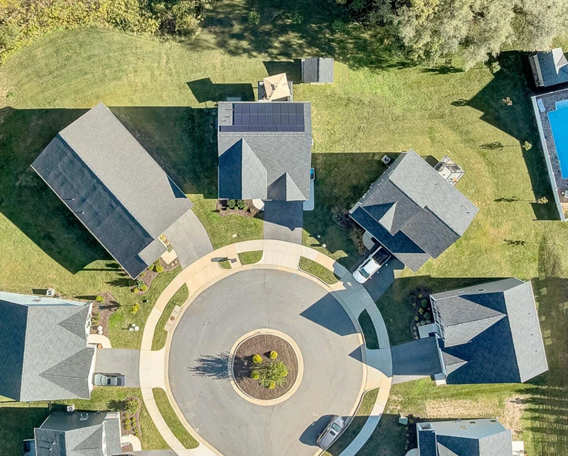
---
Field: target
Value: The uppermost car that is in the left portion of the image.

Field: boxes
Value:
[95,372,126,387]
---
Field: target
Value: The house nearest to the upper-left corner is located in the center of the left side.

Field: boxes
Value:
[31,101,196,279]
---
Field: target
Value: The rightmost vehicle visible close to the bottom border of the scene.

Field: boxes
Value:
[317,414,343,450]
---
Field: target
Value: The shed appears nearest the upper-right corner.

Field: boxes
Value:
[530,48,568,87]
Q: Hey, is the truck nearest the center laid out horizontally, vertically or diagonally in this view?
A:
diagonally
